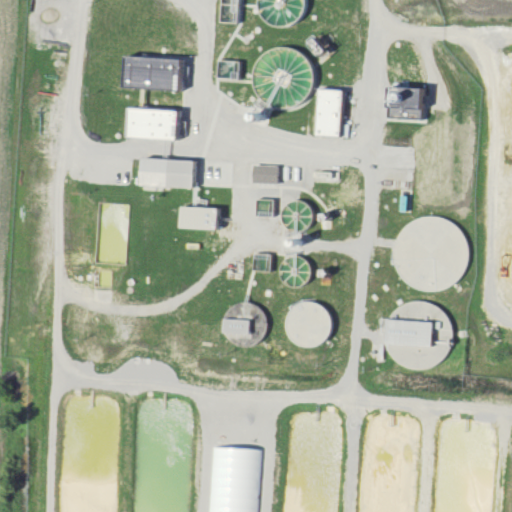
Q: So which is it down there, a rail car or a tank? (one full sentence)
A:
Looking from above, you can make out a tank.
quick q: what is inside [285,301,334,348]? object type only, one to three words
storage tank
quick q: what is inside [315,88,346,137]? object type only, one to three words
building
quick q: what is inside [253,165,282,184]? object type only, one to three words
shed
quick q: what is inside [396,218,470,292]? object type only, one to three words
storage tank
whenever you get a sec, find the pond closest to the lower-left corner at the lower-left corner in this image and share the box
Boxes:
[61,392,120,512]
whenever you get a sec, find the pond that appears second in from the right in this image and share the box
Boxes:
[360,414,420,512]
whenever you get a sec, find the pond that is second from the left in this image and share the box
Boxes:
[134,395,193,512]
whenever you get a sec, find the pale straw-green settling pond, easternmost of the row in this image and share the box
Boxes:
[434,418,497,512]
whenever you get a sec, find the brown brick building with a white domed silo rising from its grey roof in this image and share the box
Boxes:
[388,86,426,120]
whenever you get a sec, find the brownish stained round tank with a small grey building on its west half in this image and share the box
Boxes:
[222,302,270,348]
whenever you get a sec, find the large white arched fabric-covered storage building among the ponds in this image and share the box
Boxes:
[212,446,264,512]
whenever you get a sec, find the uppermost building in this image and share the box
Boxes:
[122,57,186,91]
